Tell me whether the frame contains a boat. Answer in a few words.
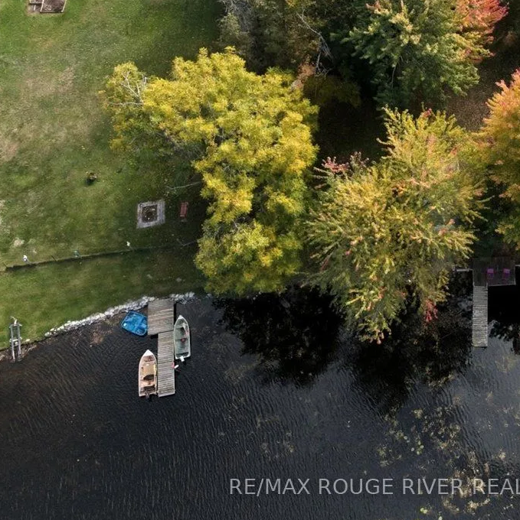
Yes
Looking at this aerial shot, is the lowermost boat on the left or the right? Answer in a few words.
left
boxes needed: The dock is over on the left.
[147,298,178,398]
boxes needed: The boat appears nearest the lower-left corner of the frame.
[137,349,158,403]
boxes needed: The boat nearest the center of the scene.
[175,313,191,367]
